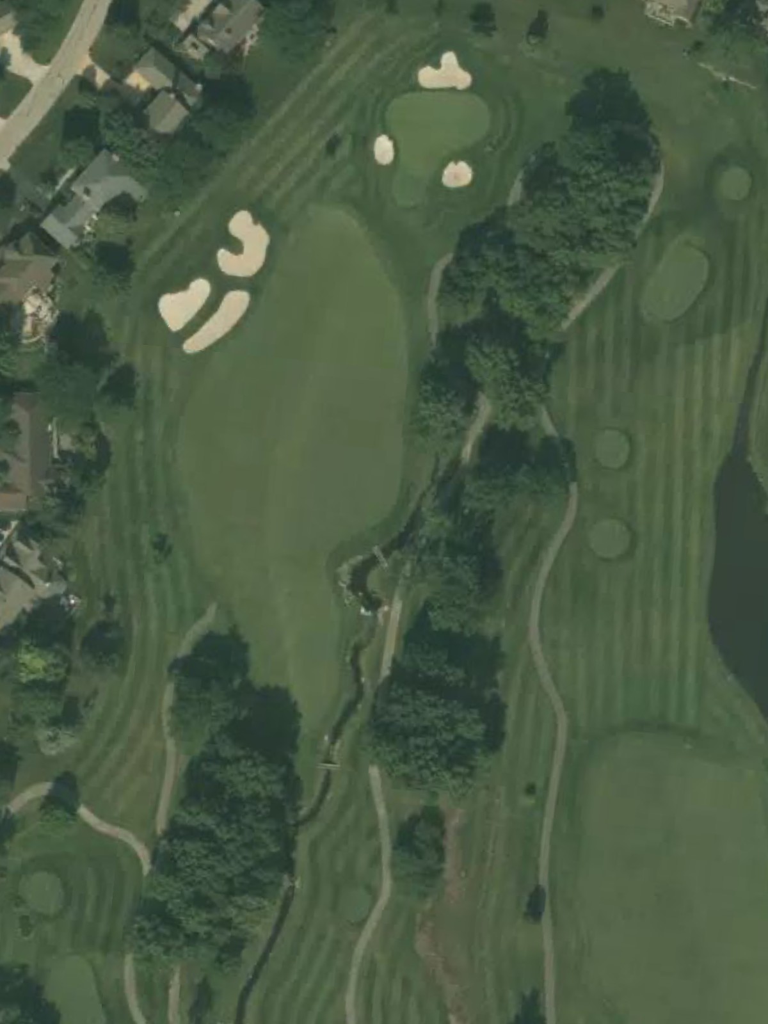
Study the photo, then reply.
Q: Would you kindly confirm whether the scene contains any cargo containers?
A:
No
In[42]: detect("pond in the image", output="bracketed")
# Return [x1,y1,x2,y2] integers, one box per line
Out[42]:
[709,318,768,726]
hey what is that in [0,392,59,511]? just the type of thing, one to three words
house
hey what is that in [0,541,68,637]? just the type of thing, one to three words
house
